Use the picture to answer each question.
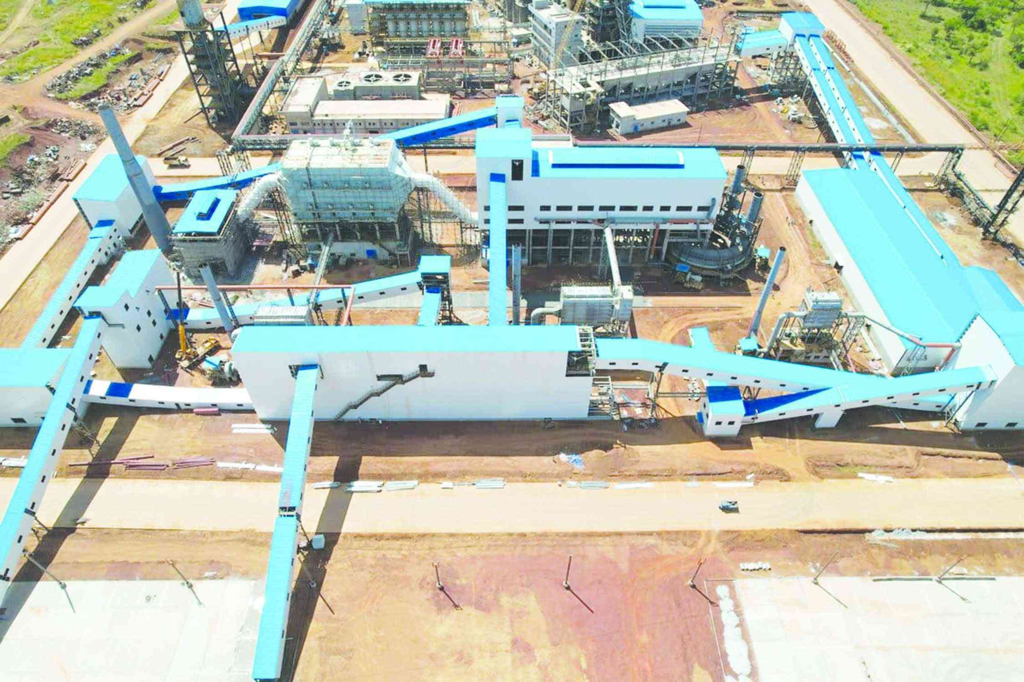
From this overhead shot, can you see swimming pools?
No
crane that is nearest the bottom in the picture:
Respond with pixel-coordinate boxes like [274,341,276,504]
[174,267,214,370]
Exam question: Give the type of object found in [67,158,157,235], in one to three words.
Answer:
building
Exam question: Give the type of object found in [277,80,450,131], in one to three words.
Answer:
building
